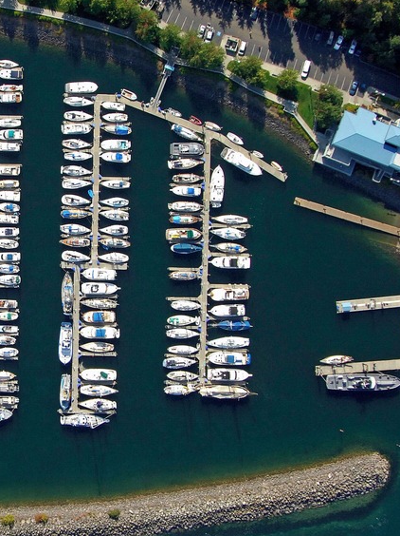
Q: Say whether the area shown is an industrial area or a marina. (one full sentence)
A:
What you see here is a marina.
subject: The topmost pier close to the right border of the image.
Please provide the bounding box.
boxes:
[293,197,398,234]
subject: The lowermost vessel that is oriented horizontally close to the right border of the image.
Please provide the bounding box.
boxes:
[324,374,400,390]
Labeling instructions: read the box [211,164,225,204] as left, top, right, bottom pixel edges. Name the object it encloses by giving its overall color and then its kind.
white boat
